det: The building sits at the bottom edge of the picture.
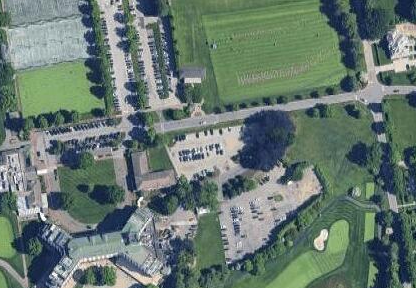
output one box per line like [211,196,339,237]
[40,204,166,288]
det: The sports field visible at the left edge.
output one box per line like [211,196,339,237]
[16,61,104,117]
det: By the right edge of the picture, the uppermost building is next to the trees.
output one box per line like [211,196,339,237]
[388,28,416,63]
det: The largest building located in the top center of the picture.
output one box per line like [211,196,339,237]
[180,67,204,85]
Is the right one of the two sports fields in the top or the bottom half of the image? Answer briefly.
top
